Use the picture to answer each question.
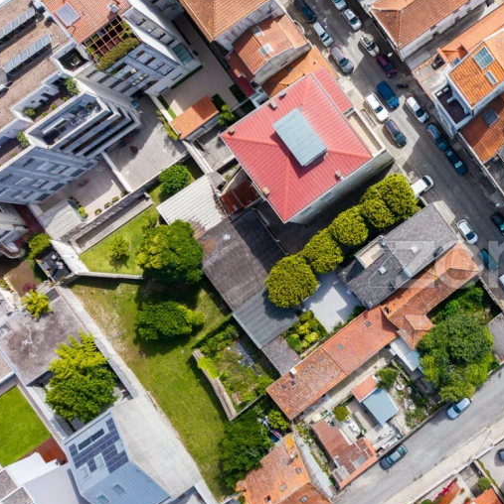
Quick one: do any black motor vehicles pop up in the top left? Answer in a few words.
No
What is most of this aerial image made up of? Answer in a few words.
buildings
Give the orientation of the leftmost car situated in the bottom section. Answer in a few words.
at an angle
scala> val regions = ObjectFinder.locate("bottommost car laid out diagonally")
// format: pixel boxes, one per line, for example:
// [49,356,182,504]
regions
[379,443,409,471]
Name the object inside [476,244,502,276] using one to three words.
car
